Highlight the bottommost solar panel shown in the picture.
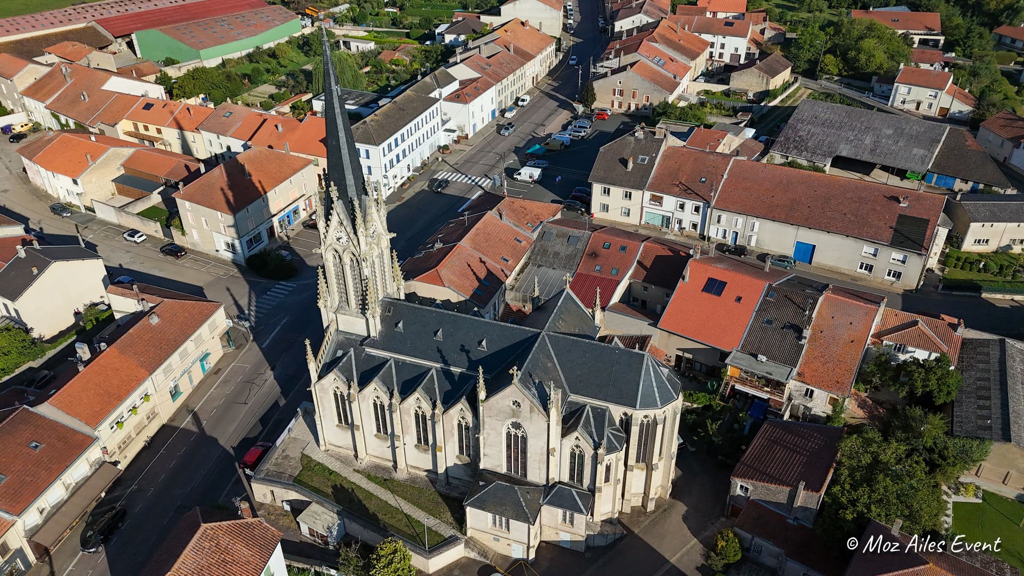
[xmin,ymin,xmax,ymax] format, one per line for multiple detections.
[701,276,727,297]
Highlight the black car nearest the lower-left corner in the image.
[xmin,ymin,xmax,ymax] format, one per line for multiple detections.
[74,497,128,551]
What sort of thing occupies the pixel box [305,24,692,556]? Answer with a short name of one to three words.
church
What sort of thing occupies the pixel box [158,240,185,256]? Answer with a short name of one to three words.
car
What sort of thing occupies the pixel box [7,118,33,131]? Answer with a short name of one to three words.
vehicle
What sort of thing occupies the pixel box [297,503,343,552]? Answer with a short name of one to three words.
shed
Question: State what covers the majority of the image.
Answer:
buildings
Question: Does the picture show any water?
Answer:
No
